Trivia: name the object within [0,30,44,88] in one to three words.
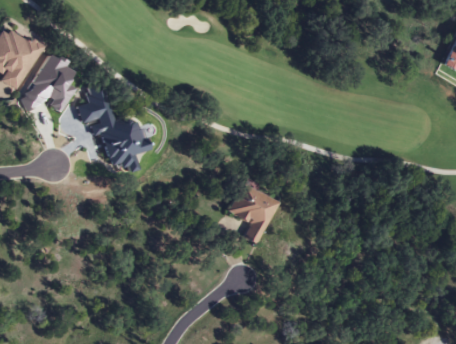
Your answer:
house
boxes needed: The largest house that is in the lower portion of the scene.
[230,187,280,242]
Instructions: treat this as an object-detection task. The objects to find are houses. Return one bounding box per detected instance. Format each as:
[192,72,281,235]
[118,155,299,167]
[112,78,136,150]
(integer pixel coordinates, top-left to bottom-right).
[230,187,280,242]
[444,40,456,68]
[20,52,80,116]
[78,82,156,172]
[0,30,44,88]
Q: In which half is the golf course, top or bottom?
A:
top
